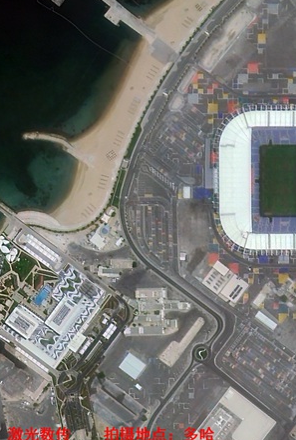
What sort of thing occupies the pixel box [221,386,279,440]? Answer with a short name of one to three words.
building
